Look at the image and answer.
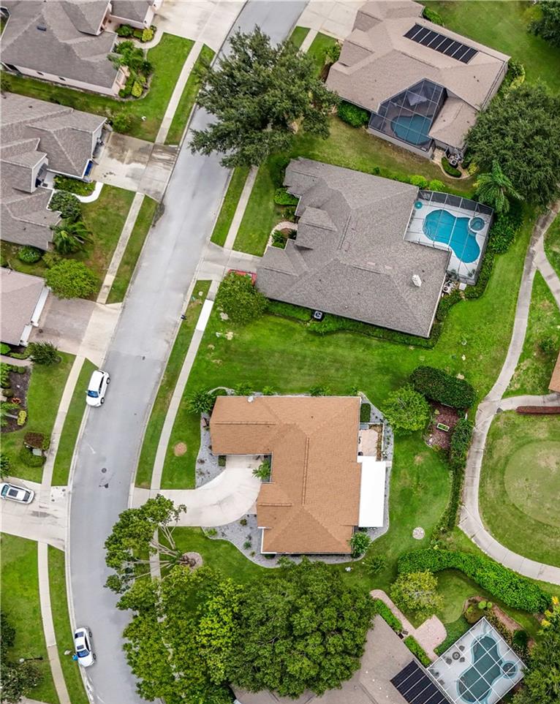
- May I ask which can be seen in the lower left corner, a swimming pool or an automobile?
automobile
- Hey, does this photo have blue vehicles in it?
No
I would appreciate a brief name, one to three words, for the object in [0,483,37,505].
car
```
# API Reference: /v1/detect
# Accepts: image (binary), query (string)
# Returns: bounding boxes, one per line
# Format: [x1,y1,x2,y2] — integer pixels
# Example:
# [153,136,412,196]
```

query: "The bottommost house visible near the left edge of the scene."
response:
[0,269,55,351]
